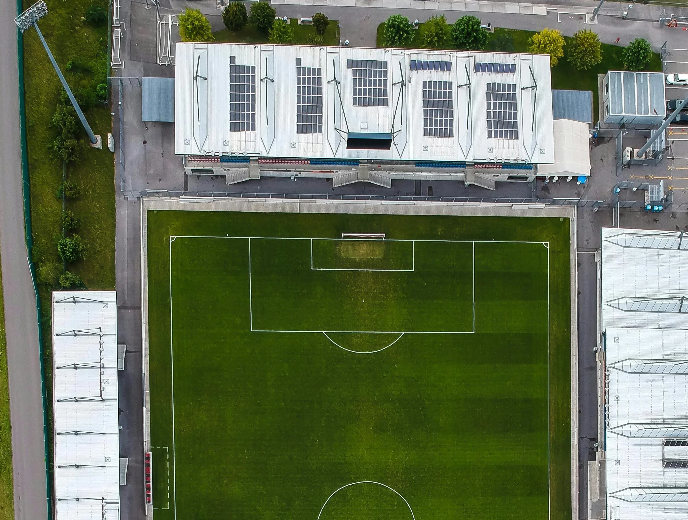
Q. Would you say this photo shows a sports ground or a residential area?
sports ground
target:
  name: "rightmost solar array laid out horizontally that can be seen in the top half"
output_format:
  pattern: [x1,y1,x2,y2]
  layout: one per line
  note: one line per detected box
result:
[475,59,517,74]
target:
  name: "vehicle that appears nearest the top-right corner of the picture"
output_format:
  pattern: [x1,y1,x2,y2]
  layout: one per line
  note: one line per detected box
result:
[667,71,688,85]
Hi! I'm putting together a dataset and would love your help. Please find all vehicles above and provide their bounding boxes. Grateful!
[667,71,688,85]
[669,97,688,111]
[669,113,688,126]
